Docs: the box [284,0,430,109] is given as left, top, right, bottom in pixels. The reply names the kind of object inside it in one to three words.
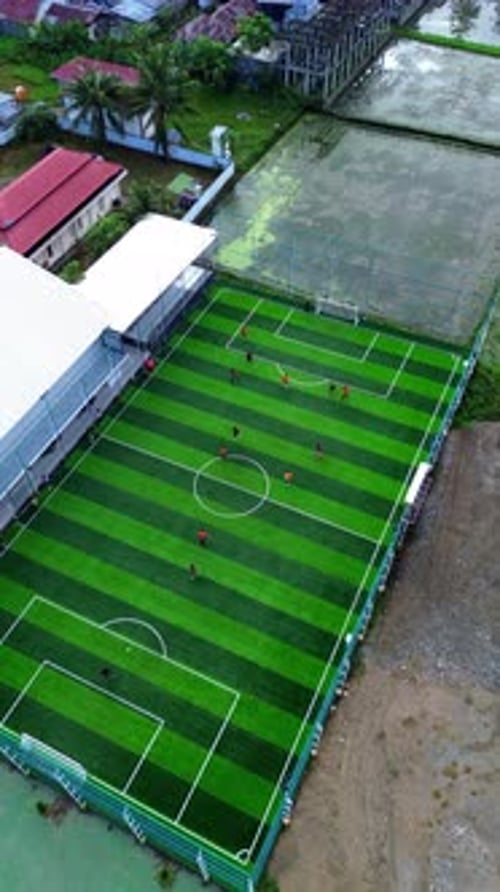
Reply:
building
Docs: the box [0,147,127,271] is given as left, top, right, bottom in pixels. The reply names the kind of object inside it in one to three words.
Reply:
house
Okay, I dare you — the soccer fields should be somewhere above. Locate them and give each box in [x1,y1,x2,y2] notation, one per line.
[0,280,470,892]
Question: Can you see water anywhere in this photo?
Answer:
Yes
